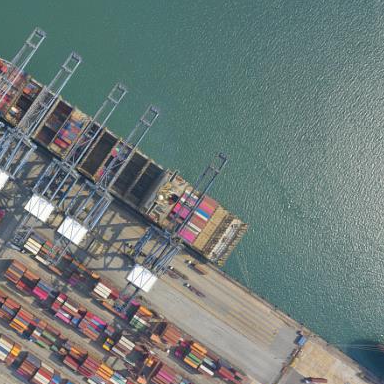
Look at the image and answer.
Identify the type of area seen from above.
port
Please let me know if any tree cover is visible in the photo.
No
